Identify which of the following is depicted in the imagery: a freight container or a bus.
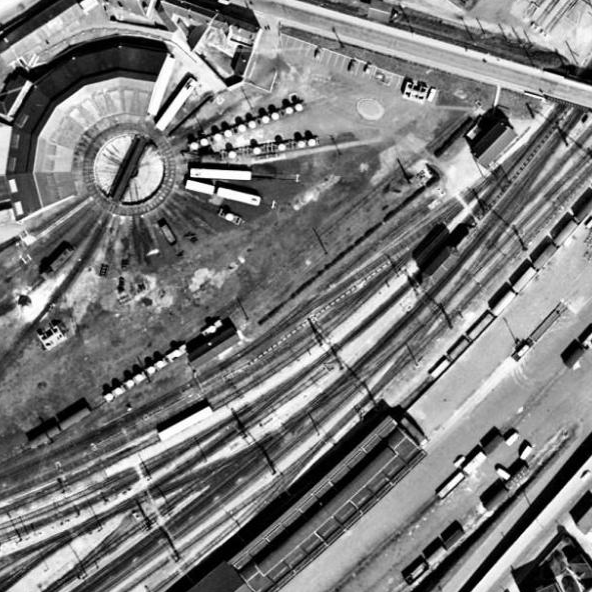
bus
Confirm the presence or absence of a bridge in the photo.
Yes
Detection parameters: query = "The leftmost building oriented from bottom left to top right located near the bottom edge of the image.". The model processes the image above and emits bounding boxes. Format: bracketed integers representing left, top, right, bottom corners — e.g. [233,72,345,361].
[228,414,425,592]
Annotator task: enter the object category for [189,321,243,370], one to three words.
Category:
shed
